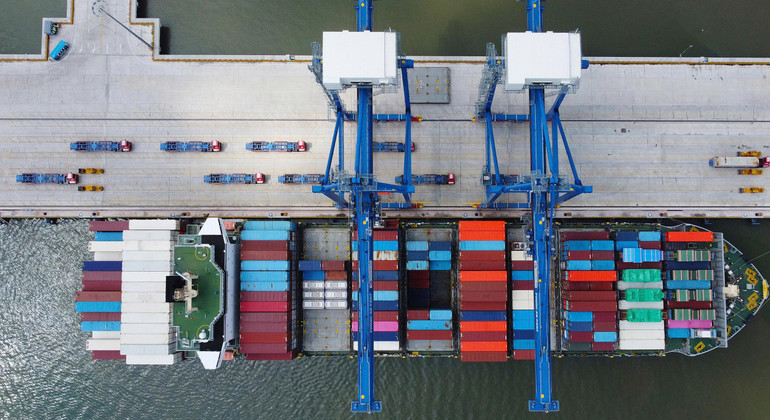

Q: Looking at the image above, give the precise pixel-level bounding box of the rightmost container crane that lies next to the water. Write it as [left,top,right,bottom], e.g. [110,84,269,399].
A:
[474,0,593,414]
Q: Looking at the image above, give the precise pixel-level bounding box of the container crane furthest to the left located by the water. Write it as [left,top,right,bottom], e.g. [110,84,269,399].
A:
[303,0,420,415]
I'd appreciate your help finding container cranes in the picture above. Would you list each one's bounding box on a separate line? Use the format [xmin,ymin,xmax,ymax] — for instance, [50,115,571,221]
[474,0,593,414]
[303,0,420,415]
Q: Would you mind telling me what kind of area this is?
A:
port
